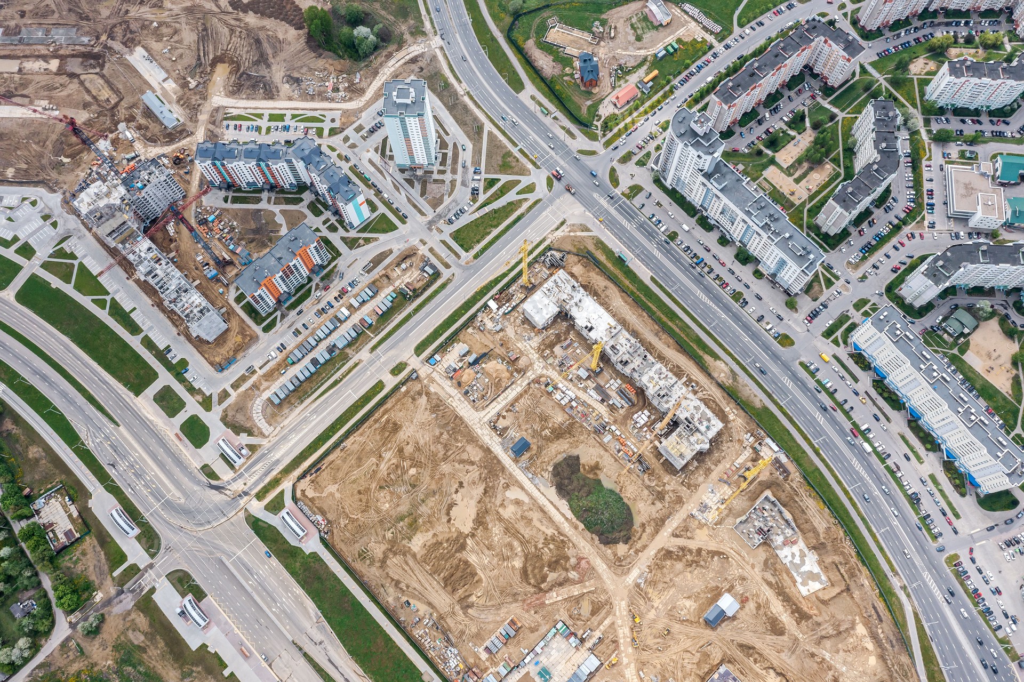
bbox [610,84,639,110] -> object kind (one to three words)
house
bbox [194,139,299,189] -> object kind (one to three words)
building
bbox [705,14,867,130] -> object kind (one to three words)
building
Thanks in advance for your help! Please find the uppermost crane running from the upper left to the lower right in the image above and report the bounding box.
[0,96,128,180]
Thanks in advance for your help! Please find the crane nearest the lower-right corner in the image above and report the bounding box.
[712,445,782,518]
